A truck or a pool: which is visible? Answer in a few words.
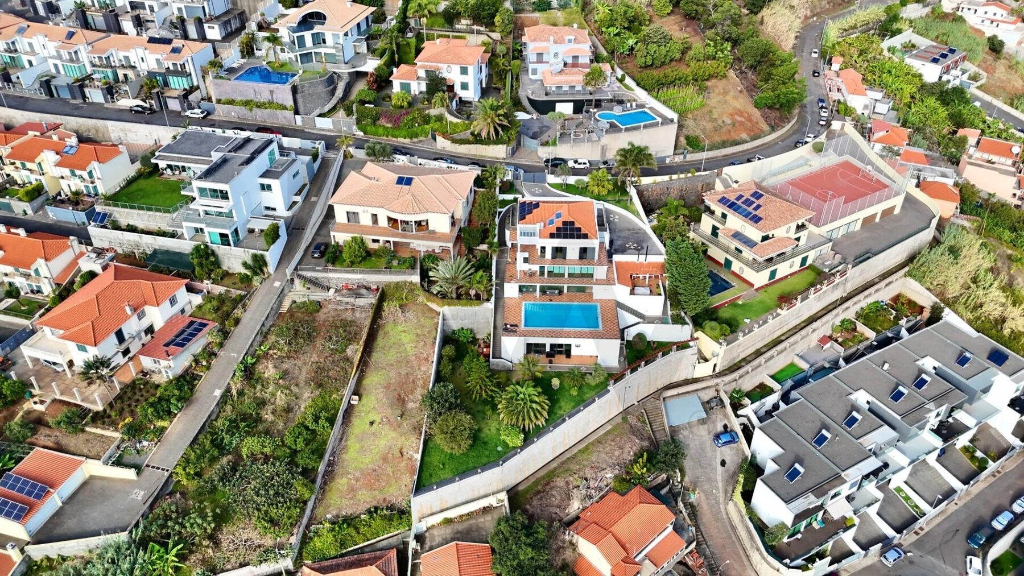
pool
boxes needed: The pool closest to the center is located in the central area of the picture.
[525,304,599,328]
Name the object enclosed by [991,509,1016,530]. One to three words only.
car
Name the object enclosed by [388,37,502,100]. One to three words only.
house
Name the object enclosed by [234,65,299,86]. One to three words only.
swimming pool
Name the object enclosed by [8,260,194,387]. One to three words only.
house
